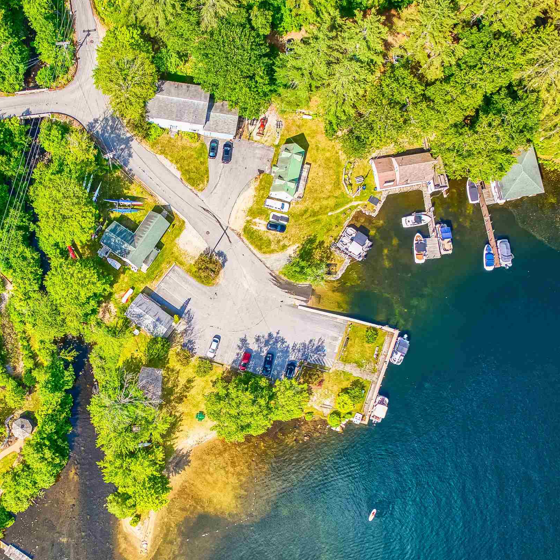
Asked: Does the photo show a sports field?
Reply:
No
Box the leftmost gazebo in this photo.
[13,419,32,438]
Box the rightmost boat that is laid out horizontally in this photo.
[398,213,431,229]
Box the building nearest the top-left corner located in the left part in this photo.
[146,78,209,137]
